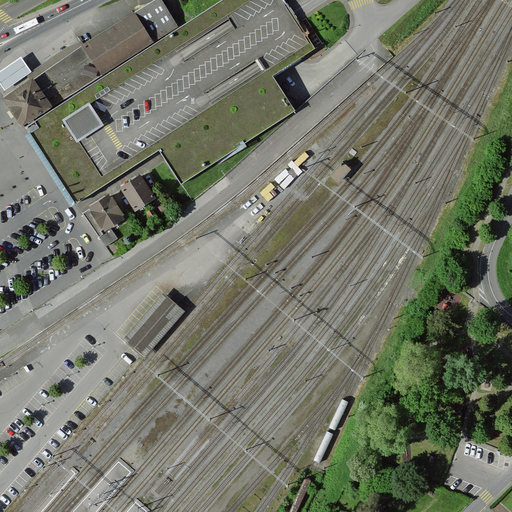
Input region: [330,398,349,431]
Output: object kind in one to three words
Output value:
rail car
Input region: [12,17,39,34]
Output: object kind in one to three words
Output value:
vehicle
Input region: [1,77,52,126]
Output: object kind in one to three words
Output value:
building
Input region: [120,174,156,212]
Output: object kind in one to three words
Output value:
house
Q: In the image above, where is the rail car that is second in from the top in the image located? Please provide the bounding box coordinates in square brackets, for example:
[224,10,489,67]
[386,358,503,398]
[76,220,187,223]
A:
[314,430,334,463]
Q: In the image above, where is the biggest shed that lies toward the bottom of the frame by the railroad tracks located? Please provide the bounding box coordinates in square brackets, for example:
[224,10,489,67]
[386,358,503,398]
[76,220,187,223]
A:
[122,294,186,358]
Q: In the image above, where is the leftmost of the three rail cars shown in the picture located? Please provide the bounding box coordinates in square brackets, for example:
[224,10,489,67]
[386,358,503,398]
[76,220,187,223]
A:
[288,476,312,512]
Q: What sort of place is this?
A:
rail yard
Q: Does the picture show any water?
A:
No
